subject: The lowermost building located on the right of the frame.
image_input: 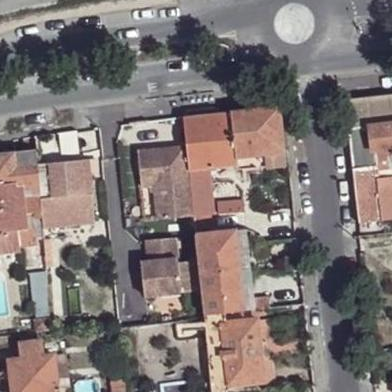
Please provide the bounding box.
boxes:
[206,312,276,392]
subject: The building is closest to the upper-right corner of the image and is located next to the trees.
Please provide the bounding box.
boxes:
[352,96,392,120]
